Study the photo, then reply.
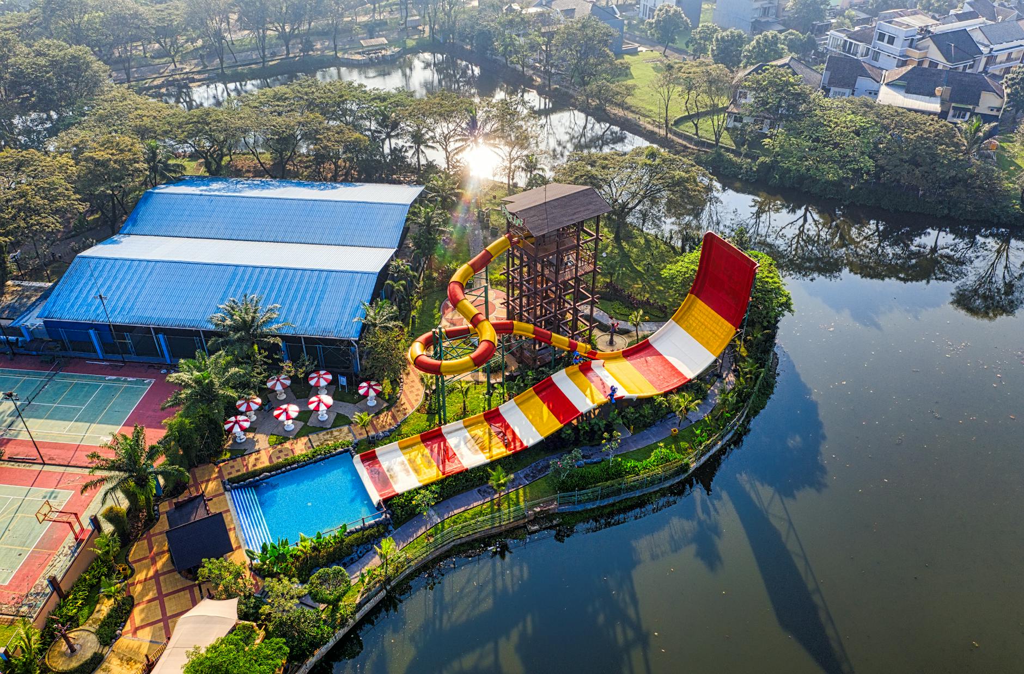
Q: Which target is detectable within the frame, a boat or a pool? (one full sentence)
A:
It is a pool that can be seen here.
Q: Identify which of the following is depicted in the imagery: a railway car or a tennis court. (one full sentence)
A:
Looking from above, you can make out a tennis court.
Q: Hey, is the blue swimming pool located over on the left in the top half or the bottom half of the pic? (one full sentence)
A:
It is in the bottom half that the blue swimming pool located over on the left appears.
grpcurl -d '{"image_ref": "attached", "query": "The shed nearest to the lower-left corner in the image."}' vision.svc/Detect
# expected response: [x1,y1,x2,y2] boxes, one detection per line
[165,499,233,588]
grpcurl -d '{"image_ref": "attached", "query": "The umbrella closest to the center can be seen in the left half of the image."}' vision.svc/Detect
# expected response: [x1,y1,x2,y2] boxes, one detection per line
[356,381,383,408]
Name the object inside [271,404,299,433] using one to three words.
umbrella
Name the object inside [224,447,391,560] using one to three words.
swimming pool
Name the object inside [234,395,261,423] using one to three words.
umbrella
